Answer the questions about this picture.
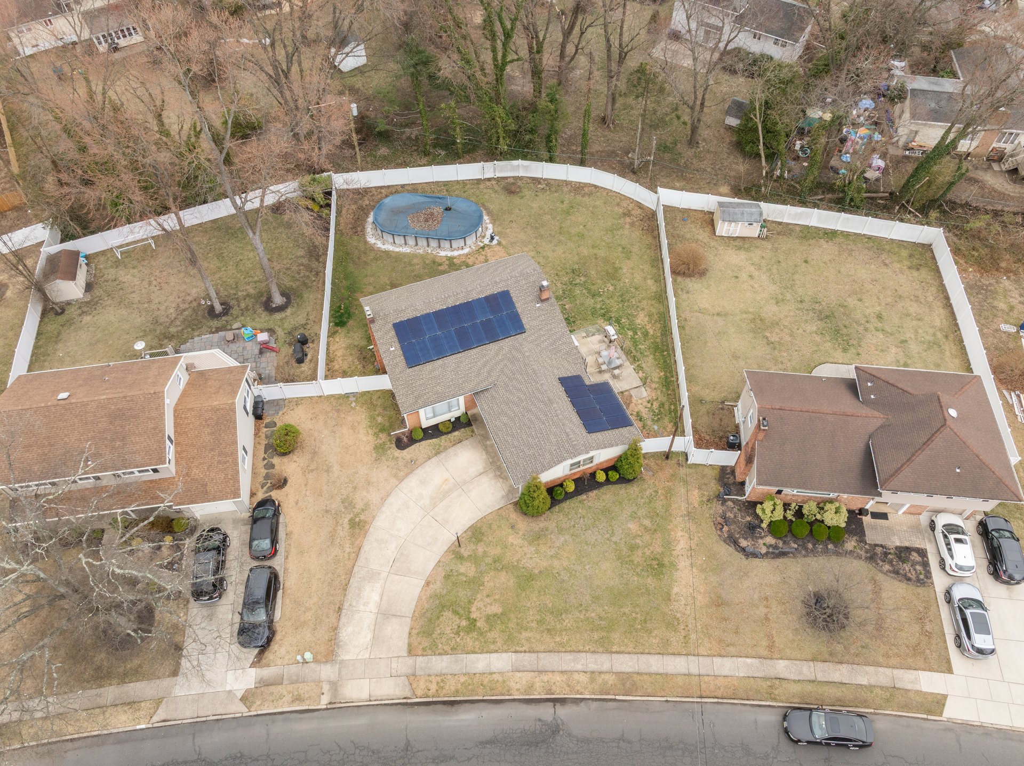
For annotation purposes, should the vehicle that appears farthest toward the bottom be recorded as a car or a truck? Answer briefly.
car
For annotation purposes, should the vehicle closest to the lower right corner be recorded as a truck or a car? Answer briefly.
car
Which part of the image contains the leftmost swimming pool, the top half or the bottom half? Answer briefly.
top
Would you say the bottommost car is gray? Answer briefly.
Yes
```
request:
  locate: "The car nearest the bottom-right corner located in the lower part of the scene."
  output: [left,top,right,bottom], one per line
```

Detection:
[946,582,998,661]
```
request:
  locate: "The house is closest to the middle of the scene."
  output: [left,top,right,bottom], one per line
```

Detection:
[359,253,646,498]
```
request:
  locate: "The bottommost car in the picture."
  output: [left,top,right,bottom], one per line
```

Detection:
[781,707,875,757]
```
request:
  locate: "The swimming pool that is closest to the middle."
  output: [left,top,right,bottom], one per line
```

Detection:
[367,195,487,249]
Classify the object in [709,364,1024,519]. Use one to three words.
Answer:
house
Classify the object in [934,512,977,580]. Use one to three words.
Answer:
car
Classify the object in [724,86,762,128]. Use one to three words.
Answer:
shed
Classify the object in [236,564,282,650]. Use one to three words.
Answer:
car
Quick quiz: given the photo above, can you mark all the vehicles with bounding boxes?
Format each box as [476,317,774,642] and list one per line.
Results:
[946,582,998,661]
[236,564,282,650]
[244,497,280,565]
[189,527,230,602]
[976,515,1024,590]
[781,707,875,757]
[934,512,977,580]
